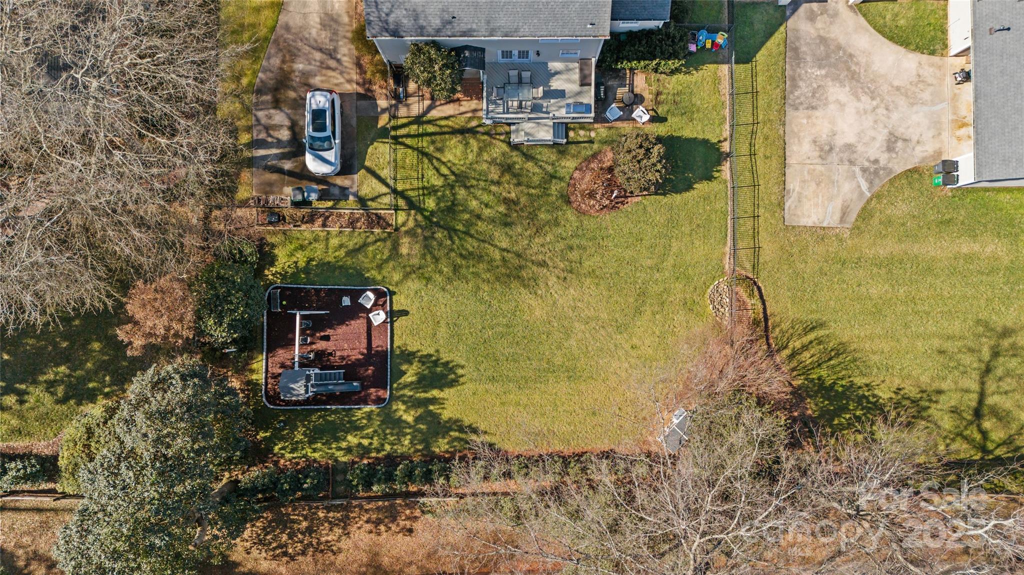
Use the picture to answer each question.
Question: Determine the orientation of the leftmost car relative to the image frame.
from top to bottom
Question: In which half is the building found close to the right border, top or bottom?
top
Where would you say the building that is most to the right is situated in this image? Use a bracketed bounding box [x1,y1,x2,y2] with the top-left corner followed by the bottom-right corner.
[940,0,1024,188]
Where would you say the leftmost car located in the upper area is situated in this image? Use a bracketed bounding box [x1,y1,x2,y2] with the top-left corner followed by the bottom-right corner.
[300,89,344,178]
